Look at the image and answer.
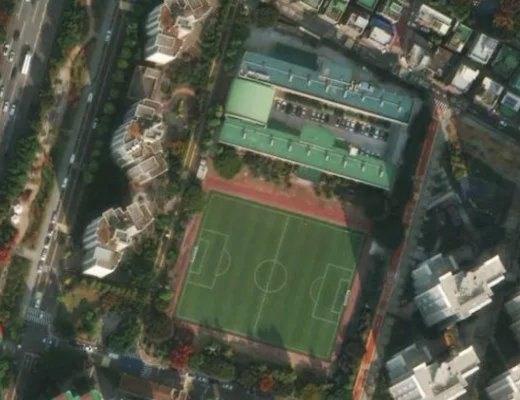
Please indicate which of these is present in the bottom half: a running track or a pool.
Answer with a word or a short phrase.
running track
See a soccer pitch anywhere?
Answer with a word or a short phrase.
Yes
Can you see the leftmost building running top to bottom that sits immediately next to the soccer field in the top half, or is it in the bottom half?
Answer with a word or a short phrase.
top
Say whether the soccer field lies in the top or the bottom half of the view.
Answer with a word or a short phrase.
bottom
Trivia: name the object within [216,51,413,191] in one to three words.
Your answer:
building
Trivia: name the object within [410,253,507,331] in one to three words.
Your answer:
building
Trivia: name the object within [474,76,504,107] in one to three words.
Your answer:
house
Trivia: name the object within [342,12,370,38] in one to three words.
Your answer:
house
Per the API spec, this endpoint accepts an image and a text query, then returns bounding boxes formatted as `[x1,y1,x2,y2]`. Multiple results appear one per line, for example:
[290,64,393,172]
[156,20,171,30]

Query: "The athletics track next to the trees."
[169,173,376,369]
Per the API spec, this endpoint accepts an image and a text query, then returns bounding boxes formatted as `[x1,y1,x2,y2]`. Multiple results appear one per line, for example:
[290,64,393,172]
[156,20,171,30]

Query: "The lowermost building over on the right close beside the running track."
[385,345,482,400]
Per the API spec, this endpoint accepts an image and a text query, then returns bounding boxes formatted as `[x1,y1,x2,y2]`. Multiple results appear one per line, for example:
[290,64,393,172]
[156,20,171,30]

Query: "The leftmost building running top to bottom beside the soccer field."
[112,70,168,189]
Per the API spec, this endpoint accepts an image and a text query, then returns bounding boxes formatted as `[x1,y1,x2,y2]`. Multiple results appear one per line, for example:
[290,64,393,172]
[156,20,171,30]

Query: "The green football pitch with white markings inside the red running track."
[176,188,362,362]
